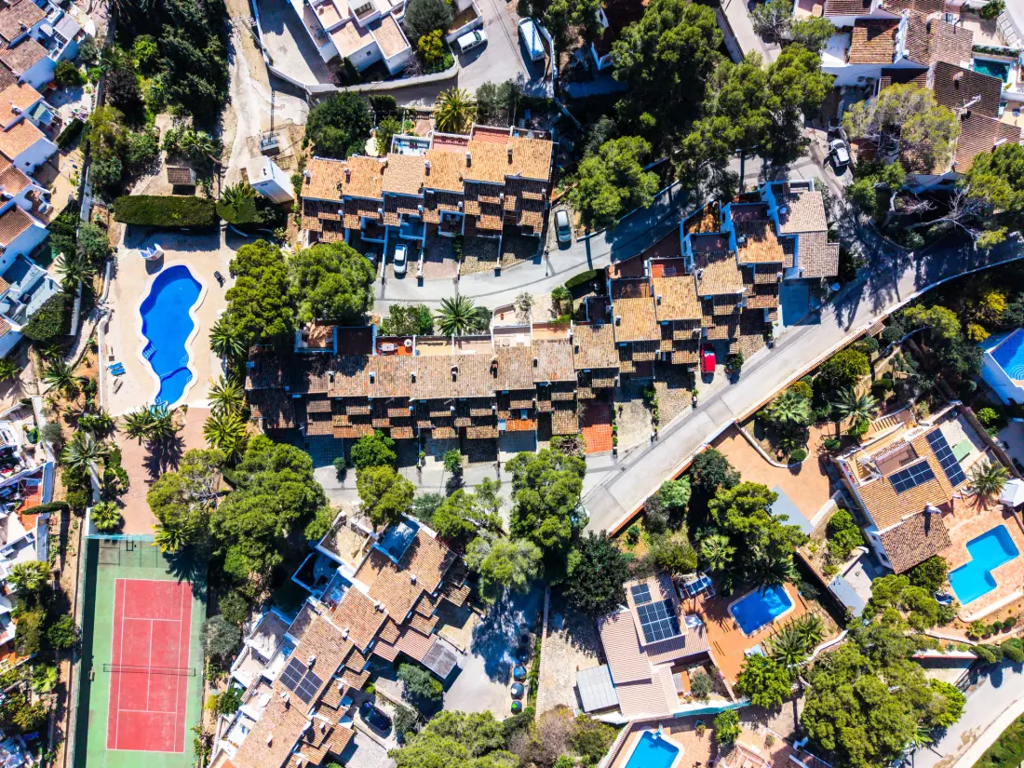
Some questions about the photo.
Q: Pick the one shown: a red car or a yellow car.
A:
red car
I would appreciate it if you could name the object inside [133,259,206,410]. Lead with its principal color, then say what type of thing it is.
blue swimming pool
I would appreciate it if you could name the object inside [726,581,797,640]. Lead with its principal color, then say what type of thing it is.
blue swimming pool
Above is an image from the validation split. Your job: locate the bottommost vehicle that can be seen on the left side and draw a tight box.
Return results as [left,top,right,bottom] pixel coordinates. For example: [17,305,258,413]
[360,700,390,732]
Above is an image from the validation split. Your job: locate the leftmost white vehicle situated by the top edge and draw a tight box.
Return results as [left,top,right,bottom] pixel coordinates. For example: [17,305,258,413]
[455,28,490,52]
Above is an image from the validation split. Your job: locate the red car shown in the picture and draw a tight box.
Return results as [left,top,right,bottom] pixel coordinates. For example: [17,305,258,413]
[700,344,716,375]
